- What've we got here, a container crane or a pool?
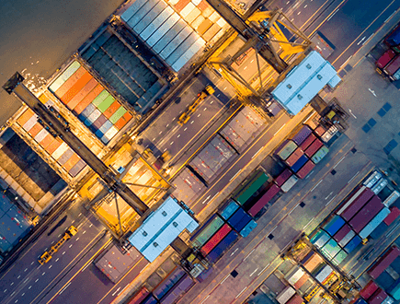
container crane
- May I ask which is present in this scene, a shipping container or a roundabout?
shipping container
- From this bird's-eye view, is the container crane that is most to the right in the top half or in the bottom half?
bottom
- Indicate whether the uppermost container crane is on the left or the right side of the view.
right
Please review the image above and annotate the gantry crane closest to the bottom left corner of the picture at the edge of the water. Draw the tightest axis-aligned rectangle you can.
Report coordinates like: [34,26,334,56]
[0,71,211,278]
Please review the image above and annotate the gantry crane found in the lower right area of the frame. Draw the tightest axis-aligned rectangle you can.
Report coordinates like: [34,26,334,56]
[280,229,364,304]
